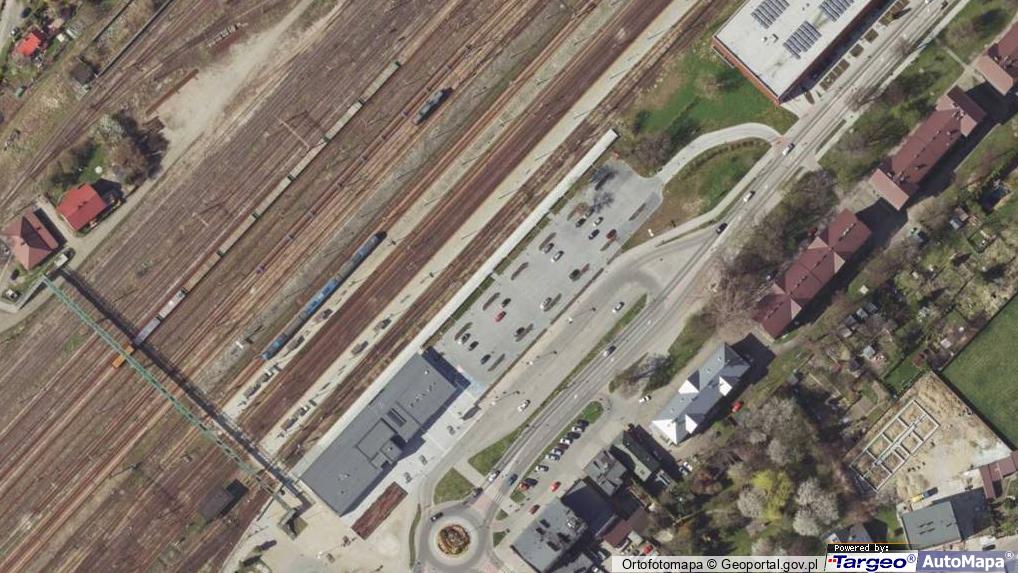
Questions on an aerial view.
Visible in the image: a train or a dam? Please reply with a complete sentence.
The one in the frame is a train.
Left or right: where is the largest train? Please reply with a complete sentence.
The largest train is on the left side of the image.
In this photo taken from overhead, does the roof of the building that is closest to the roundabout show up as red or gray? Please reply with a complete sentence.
The color of the roof of the building that is closest to the roundabout is gray.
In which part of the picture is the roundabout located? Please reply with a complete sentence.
The roundabout is in the bottom part of the image.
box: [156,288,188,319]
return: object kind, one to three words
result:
rail car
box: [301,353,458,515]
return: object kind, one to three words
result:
train station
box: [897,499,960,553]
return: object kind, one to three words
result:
building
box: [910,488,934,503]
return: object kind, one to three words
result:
vehicle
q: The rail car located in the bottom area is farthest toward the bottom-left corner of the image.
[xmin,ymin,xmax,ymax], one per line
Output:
[110,343,137,369]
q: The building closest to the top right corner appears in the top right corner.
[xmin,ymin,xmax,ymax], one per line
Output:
[968,19,1018,96]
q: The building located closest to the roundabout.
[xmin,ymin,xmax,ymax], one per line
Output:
[510,493,588,573]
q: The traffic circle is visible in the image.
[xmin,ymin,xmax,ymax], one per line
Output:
[416,501,492,573]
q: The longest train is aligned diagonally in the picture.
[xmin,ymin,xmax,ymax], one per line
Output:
[261,232,388,359]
